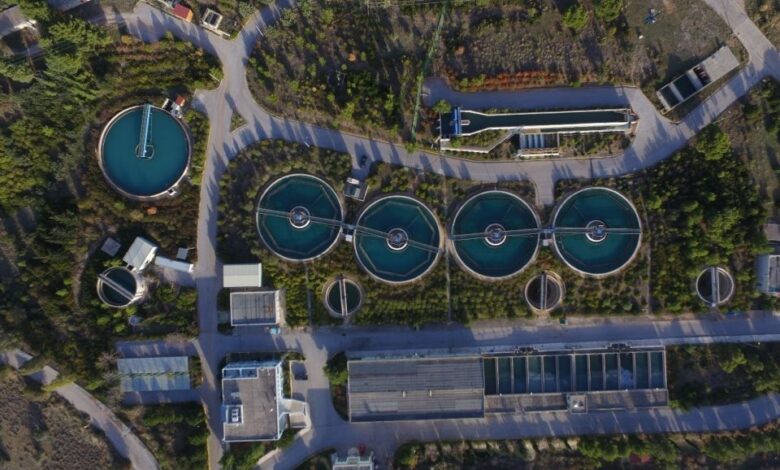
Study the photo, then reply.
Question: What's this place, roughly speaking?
industrial area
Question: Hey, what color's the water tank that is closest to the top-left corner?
blue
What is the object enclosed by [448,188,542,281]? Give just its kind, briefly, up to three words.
storage tank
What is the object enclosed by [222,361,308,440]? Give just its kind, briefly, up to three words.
building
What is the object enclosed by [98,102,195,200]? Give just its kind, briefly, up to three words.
water tank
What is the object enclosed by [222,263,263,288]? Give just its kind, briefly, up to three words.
shed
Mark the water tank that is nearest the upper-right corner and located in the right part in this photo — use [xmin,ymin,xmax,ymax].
[654,46,740,114]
